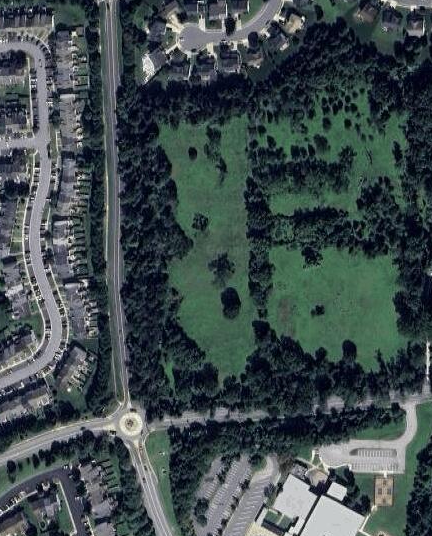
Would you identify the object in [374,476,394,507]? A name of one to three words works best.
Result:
basketball court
